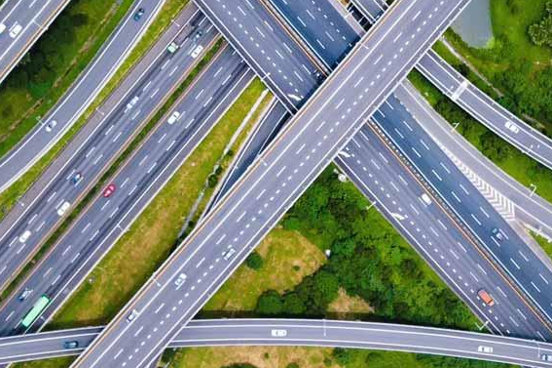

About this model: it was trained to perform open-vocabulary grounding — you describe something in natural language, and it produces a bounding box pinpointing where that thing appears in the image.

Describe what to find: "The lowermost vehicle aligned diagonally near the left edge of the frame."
[21,296,49,328]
